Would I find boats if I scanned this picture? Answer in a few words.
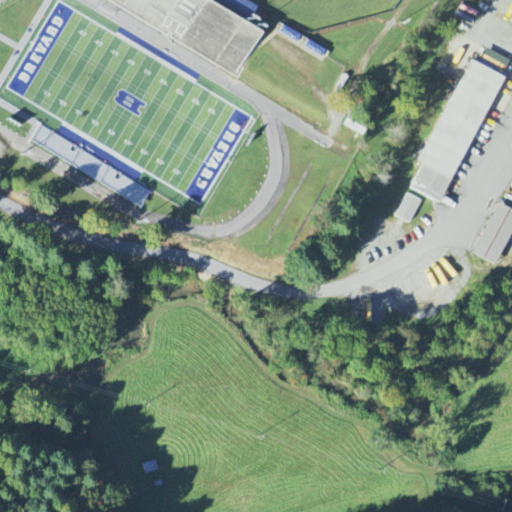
No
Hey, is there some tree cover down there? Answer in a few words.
Yes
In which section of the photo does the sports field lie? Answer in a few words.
top left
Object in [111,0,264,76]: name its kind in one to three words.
building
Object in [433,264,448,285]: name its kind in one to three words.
vehicle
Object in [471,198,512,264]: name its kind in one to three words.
building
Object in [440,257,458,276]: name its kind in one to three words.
vehicle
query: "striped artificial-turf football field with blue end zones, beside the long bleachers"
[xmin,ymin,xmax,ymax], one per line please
[0,0,259,213]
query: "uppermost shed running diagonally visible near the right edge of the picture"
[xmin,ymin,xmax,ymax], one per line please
[482,42,512,72]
